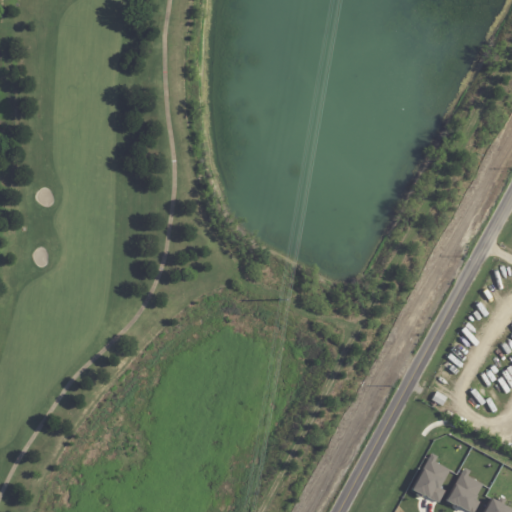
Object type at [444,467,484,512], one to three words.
house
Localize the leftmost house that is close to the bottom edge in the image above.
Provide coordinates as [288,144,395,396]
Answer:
[412,454,452,504]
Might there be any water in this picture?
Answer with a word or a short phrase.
Yes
